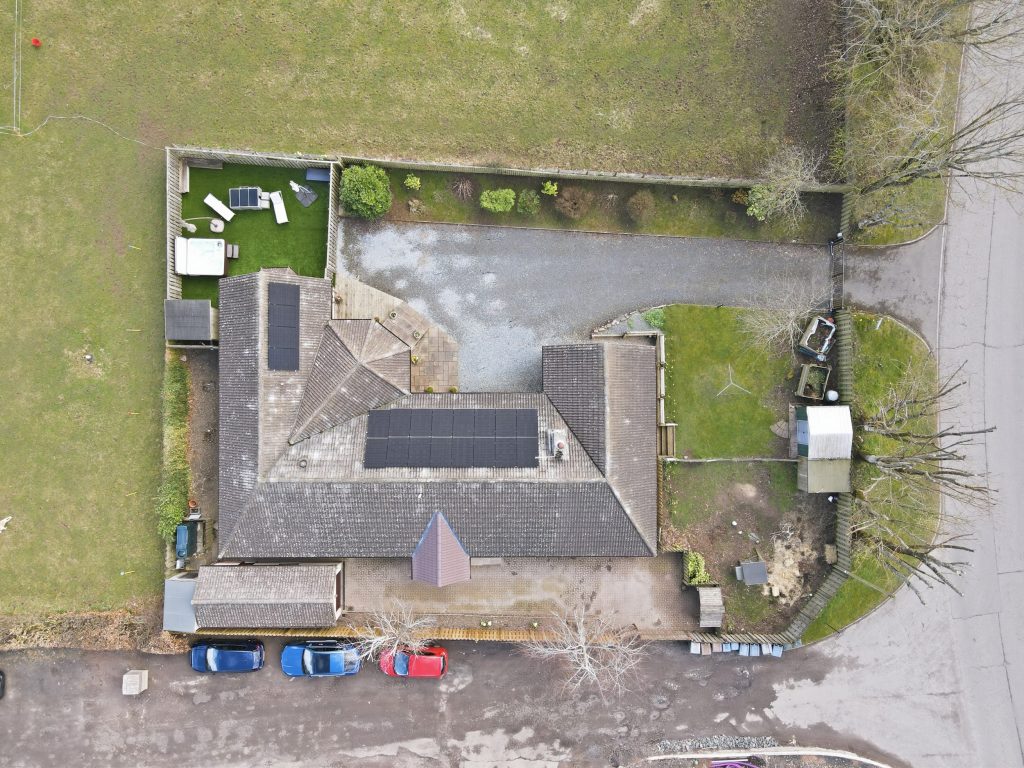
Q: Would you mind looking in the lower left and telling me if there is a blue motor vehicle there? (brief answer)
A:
Yes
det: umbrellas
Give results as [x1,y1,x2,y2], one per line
[290,180,318,206]
[185,217,223,233]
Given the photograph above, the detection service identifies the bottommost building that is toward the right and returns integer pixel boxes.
[698,587,725,628]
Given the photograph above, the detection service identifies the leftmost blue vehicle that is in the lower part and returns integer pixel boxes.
[192,638,267,677]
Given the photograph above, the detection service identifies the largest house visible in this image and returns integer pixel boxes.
[218,265,657,588]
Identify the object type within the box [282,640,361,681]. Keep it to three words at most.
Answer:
car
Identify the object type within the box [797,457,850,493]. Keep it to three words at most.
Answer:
shed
